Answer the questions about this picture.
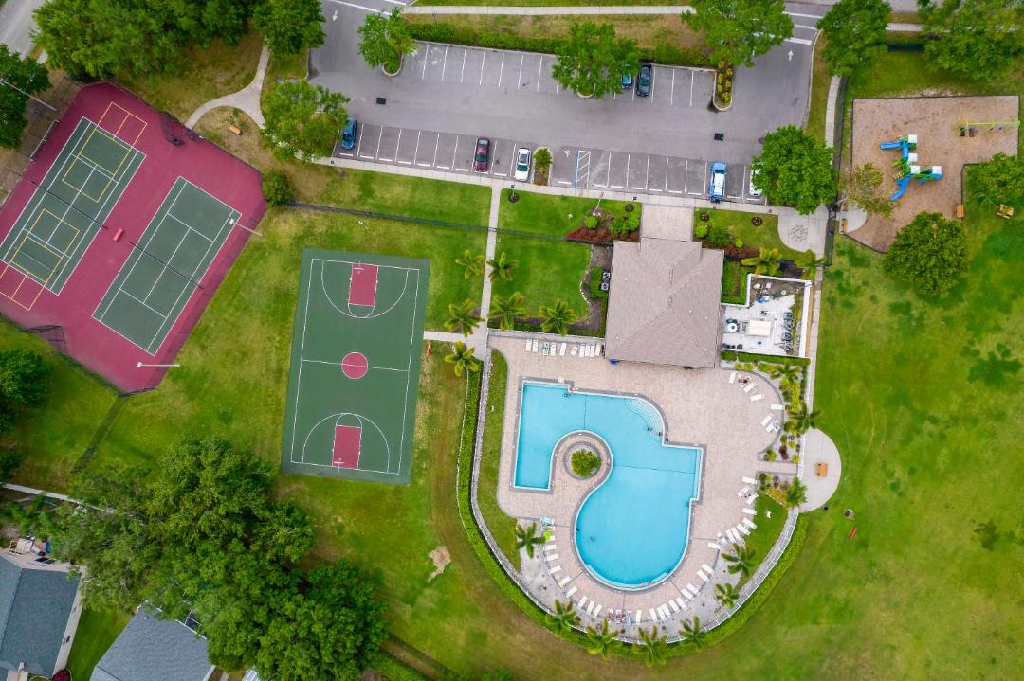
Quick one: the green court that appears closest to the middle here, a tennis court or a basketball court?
basketball court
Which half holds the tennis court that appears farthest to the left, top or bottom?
top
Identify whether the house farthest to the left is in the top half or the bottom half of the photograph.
bottom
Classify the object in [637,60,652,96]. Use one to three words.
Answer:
car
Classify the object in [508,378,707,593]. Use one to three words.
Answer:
swimming pool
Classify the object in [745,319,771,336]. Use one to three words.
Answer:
shed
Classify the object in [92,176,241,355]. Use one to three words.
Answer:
tennis court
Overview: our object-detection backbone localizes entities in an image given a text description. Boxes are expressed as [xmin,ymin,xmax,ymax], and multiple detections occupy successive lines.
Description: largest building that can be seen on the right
[605,237,724,367]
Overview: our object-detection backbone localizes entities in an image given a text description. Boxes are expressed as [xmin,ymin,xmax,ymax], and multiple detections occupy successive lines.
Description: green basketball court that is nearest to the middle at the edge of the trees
[281,249,430,485]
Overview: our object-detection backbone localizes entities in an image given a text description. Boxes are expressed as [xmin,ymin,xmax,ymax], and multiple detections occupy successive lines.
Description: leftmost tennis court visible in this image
[0,101,147,310]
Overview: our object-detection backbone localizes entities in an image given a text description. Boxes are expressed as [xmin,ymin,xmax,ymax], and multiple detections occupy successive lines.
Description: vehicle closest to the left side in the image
[340,115,357,148]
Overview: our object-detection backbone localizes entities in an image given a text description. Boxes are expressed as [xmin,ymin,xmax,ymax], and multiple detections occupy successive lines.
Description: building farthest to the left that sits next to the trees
[0,545,91,681]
